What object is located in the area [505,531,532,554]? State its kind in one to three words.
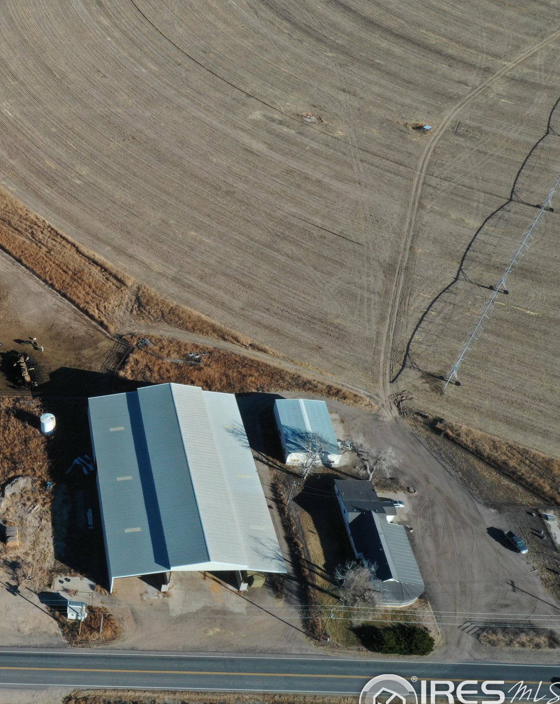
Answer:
truck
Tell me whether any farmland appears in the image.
Yes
